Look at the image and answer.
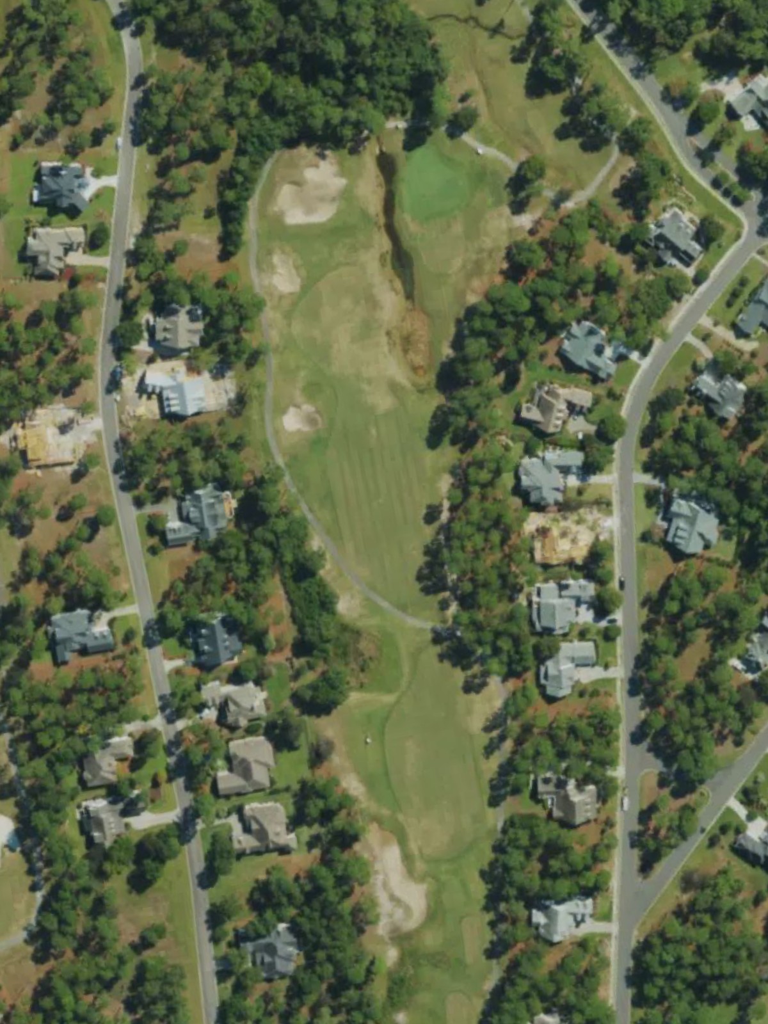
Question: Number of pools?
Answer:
0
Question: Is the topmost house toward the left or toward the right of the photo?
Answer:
right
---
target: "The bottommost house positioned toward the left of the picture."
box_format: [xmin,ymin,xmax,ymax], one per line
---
[239,921,304,973]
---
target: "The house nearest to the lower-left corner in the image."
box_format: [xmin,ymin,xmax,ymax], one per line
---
[77,796,130,849]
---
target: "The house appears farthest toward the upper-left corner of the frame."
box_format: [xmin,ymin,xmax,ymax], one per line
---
[33,162,90,212]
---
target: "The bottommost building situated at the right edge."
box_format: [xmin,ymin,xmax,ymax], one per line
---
[732,820,768,866]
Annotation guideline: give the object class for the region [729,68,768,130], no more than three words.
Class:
house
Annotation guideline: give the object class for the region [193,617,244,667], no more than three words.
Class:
house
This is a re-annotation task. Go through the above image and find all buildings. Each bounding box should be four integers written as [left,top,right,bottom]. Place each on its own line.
[540,638,596,696]
[232,798,298,854]
[239,921,304,973]
[743,633,768,677]
[560,317,619,381]
[216,732,276,797]
[692,370,749,422]
[193,617,244,667]
[165,482,237,546]
[33,162,90,212]
[27,224,85,276]
[732,820,768,866]
[735,266,768,334]
[77,796,130,849]
[519,450,584,508]
[530,775,598,827]
[729,68,768,130]
[83,735,134,786]
[530,894,594,943]
[155,303,205,349]
[145,358,228,419]
[199,679,270,727]
[671,494,726,556]
[532,578,596,634]
[49,607,115,663]
[519,387,593,435]
[647,207,709,270]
